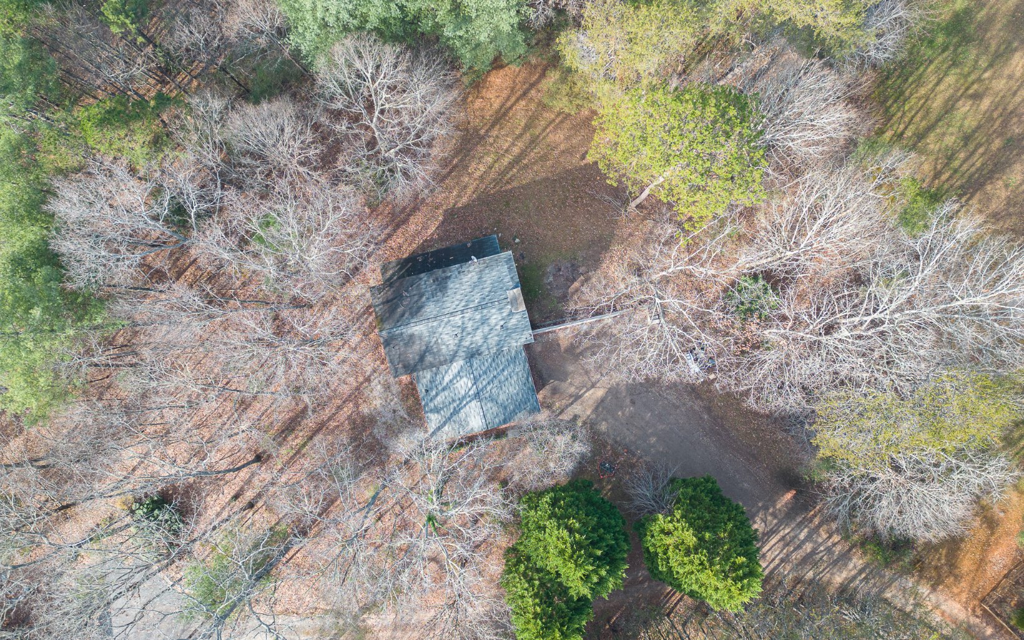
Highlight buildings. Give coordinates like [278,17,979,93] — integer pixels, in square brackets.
[370,235,542,439]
